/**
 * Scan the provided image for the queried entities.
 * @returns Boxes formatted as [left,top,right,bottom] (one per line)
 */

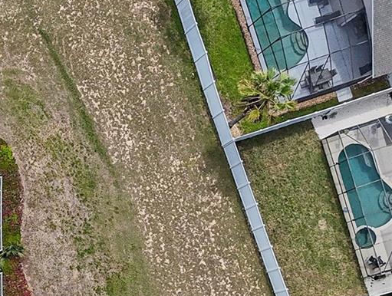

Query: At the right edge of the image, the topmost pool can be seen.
[339,141,392,231]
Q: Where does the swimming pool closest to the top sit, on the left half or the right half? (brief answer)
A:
right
